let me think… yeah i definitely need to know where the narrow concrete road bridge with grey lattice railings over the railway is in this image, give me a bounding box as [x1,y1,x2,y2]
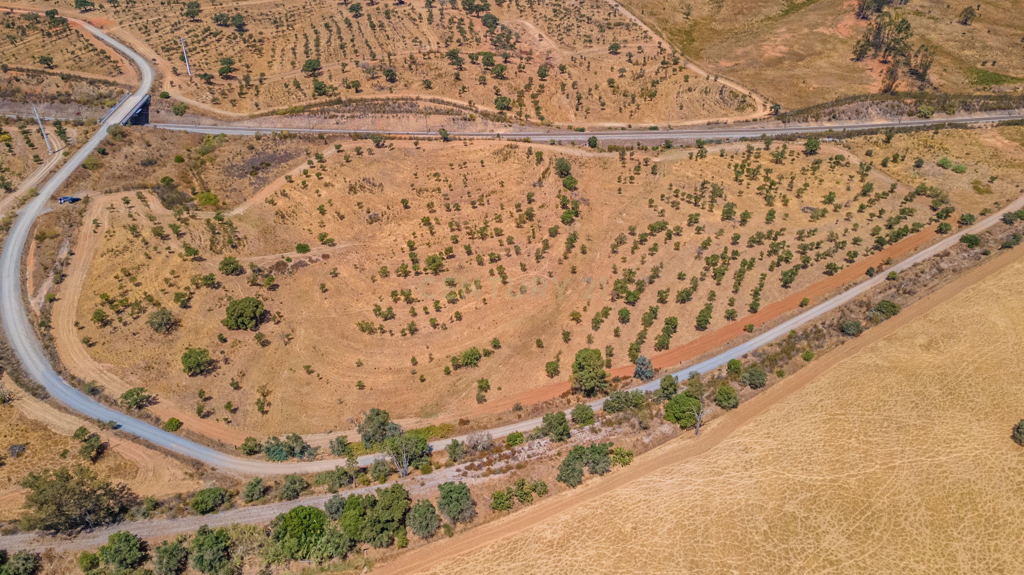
[100,94,149,126]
